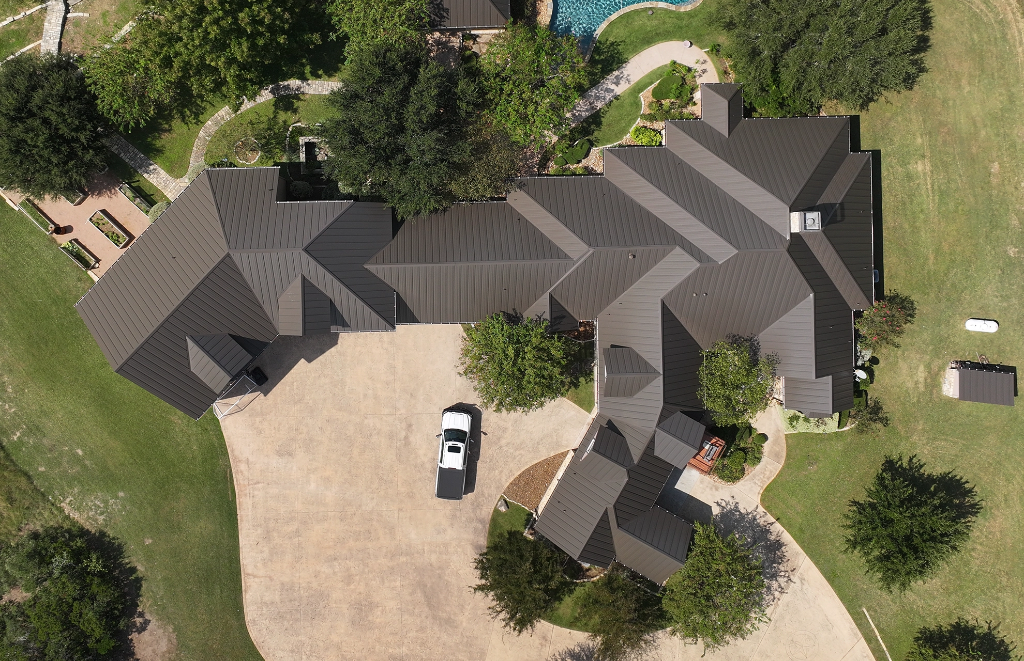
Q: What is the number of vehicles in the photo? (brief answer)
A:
1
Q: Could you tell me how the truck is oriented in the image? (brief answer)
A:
vertically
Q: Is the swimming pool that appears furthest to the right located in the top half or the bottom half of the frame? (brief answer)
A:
top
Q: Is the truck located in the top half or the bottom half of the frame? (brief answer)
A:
bottom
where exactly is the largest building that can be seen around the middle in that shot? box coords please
[73,81,875,587]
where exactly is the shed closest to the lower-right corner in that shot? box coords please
[943,366,1014,406]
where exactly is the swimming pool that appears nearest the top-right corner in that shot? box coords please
[545,0,702,65]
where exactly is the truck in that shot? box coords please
[432,406,475,504]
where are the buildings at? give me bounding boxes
[943,366,1014,406]
[73,81,875,587]
[414,0,512,37]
